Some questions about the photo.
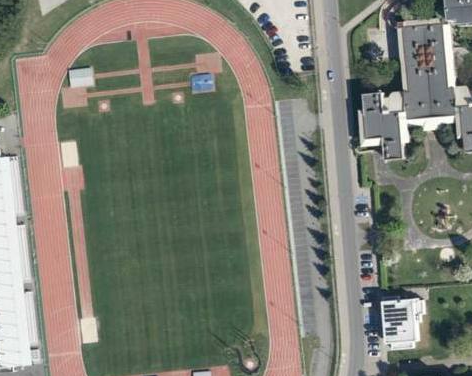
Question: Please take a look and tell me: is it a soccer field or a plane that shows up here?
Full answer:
The one in the frame is a soccer field.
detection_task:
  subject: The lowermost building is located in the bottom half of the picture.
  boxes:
[381,298,428,351]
